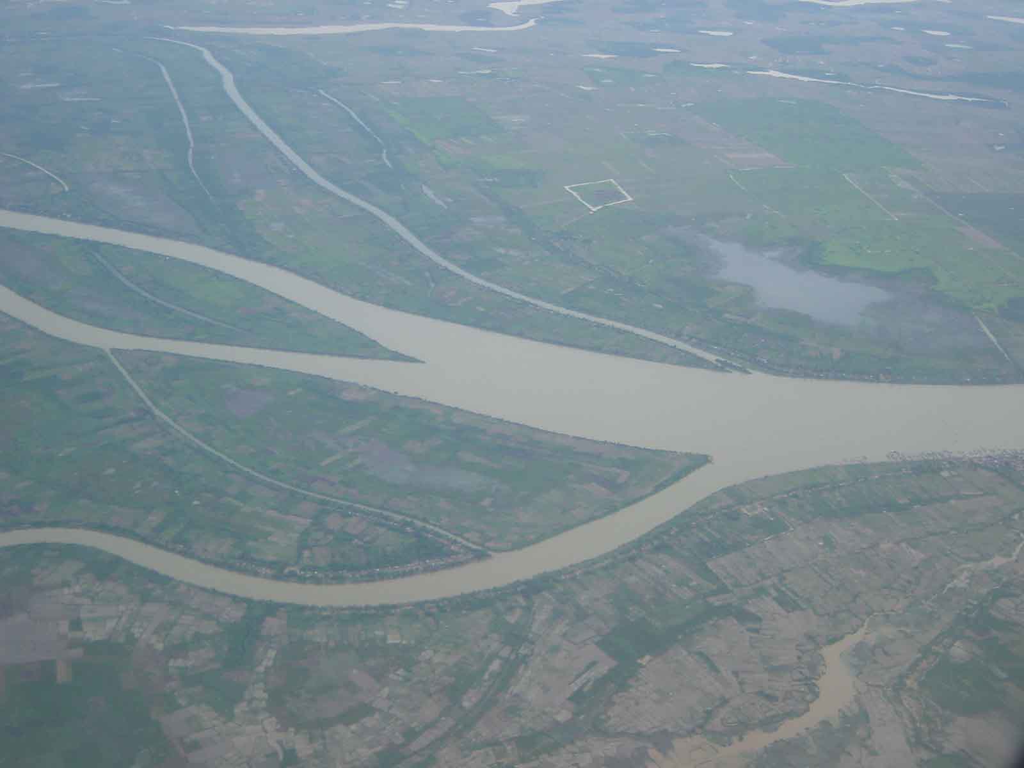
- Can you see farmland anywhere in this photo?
Yes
